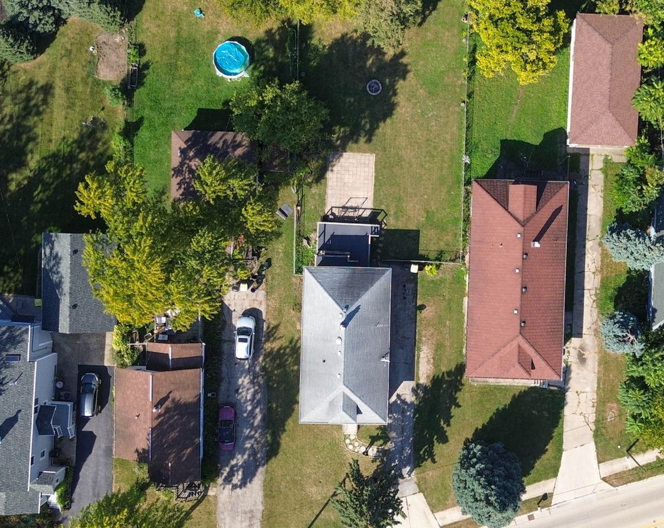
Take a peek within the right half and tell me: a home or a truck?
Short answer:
home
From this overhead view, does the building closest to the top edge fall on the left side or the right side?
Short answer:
right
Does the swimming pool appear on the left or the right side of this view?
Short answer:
left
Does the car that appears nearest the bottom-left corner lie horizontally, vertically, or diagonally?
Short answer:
vertically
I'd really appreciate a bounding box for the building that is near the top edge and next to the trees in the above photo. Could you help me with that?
[566,12,645,148]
